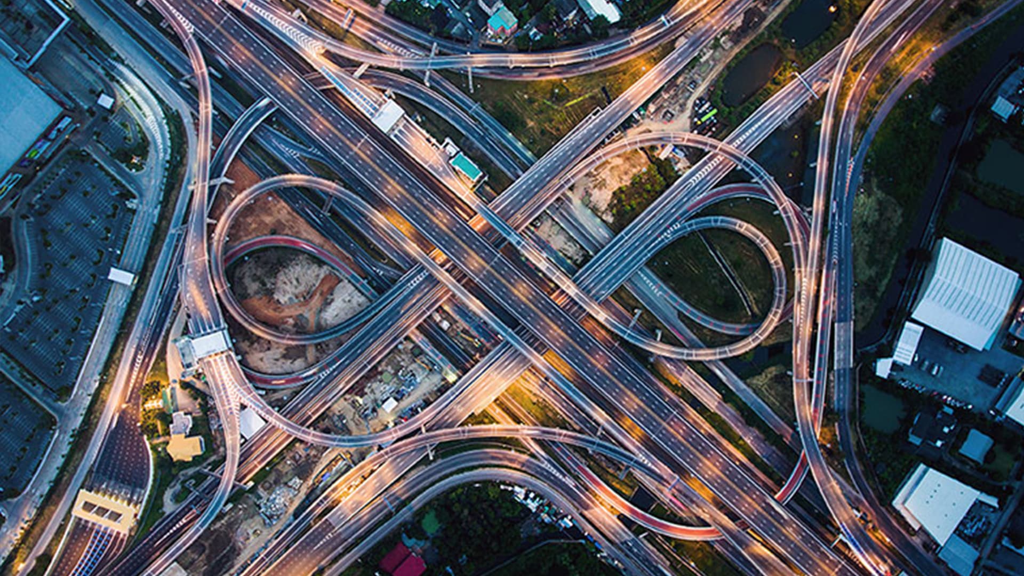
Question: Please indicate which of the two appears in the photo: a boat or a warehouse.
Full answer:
I can see a warehouse in this picture.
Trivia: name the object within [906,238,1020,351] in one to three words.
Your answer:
warehouse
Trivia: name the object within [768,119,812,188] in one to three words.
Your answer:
pond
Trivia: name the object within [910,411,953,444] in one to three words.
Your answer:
house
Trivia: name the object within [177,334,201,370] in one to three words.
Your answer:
building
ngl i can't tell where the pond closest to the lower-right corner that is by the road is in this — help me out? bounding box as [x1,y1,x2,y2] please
[863,386,906,432]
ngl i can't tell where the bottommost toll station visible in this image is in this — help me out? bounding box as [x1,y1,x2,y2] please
[71,481,142,535]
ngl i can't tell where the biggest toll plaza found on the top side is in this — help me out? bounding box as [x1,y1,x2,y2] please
[370,98,409,138]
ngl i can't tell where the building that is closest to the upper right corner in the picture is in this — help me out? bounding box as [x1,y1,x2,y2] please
[994,68,1024,103]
